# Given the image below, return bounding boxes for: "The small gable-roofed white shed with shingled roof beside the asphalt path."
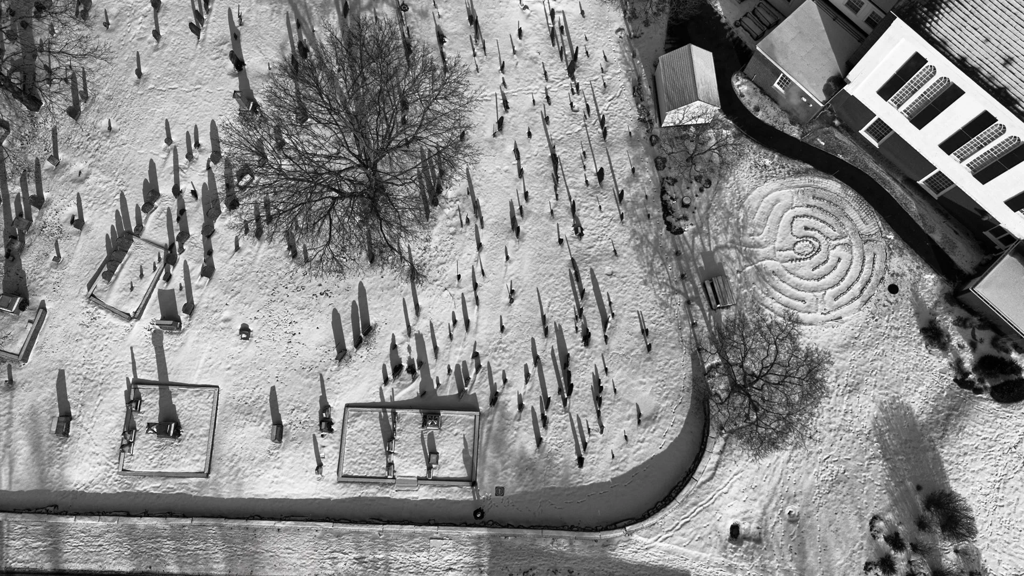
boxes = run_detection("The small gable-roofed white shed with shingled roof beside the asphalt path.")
[654,42,721,127]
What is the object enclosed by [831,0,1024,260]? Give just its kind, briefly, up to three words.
church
